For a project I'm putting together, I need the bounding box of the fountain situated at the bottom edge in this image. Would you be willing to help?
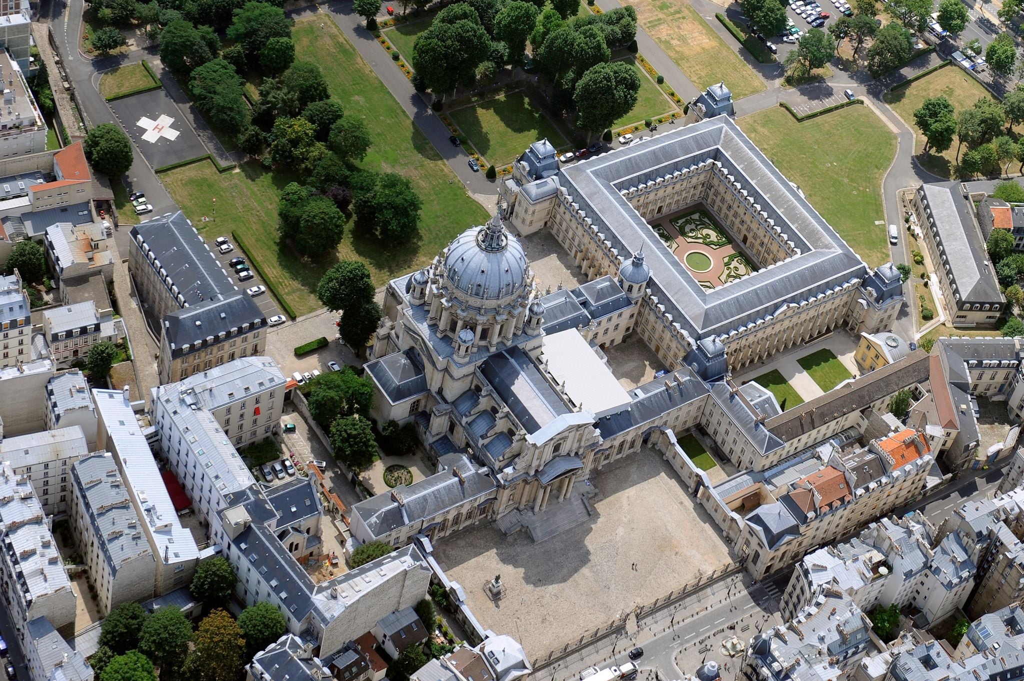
[718,633,747,664]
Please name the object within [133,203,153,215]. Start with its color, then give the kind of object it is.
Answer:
white vehicle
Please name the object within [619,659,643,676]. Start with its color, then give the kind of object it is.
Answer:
white vehicle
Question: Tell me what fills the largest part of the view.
buildings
